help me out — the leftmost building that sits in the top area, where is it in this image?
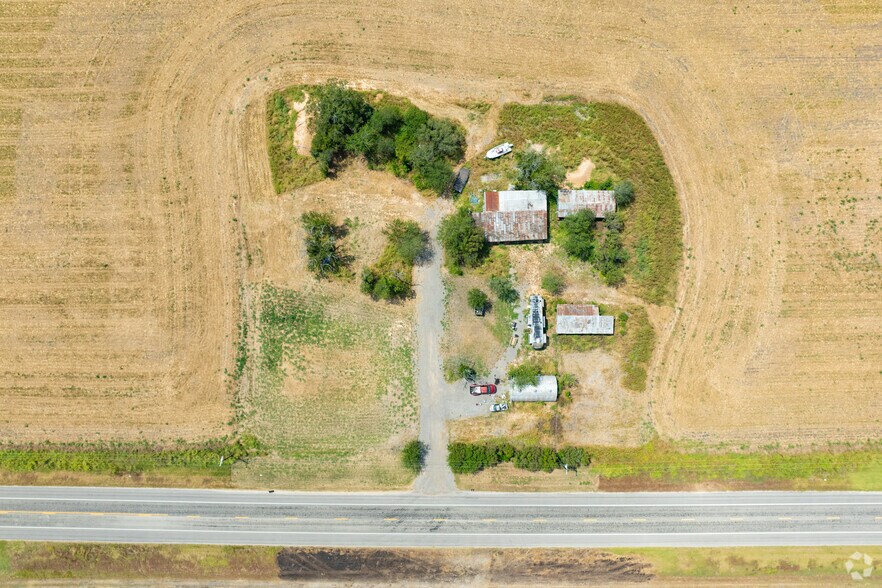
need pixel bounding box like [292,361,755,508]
[472,190,547,242]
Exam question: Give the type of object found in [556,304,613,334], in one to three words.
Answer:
shed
